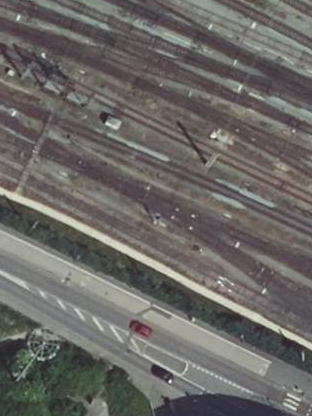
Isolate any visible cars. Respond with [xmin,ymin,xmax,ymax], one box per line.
[150,364,174,382]
[128,320,151,336]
